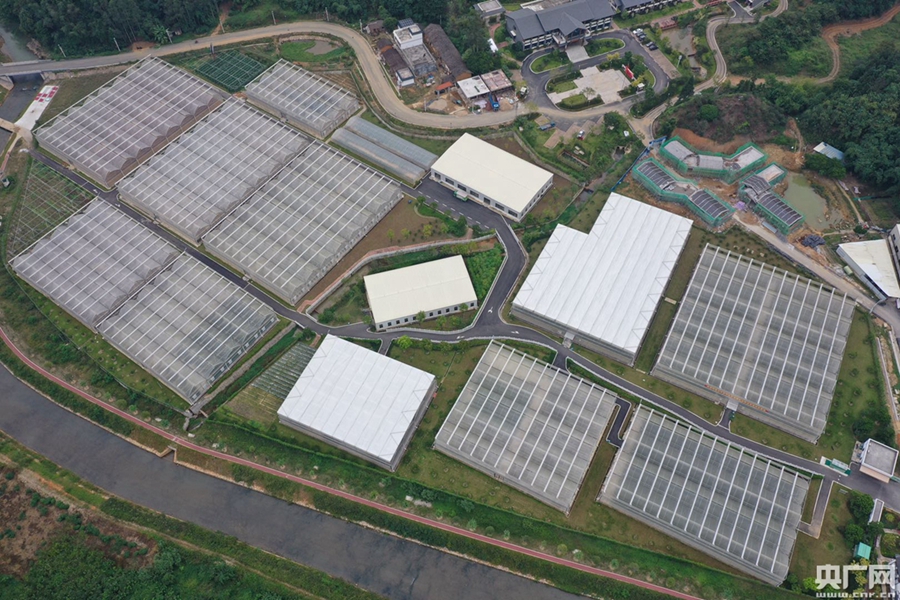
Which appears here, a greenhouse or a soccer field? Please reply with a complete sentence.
Of the two, only a greenhouse appears.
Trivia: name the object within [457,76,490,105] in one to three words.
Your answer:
house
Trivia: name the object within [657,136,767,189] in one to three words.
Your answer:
building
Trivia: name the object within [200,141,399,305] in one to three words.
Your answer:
greenhouse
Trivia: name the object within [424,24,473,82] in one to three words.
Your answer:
barn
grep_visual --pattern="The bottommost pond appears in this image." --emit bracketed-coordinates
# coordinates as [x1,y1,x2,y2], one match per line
[775,173,829,228]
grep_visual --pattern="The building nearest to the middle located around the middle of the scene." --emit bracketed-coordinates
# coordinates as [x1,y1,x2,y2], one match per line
[364,255,477,329]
